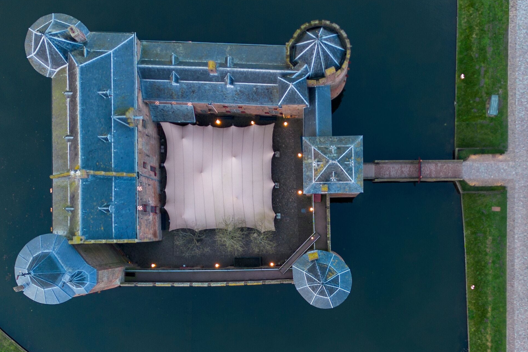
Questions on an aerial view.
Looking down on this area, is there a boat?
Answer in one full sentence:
No, no boat is visible in the view.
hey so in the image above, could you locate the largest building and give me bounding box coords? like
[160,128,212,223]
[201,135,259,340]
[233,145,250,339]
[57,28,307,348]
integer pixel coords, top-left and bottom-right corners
[14,13,364,309]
